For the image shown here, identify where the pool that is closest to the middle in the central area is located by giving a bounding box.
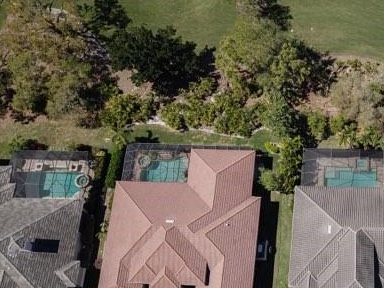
[132,155,190,183]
